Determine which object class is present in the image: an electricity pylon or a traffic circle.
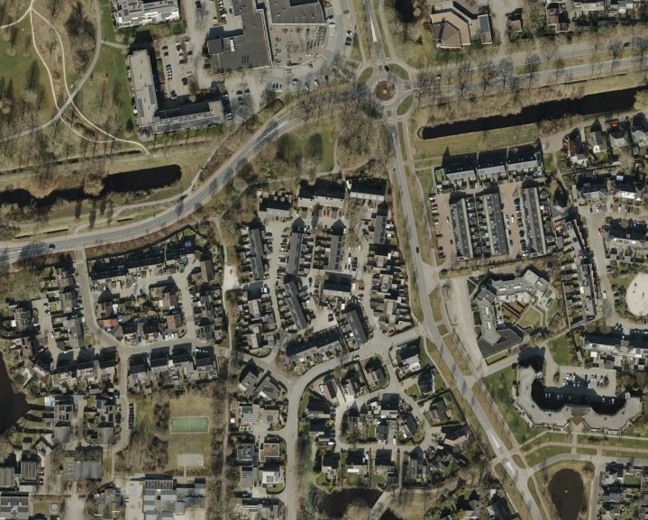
traffic circle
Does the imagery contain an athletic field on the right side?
No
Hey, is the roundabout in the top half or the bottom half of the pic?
top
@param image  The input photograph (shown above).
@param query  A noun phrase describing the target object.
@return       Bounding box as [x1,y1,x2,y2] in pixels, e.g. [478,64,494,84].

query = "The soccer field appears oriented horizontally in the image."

[170,417,210,433]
